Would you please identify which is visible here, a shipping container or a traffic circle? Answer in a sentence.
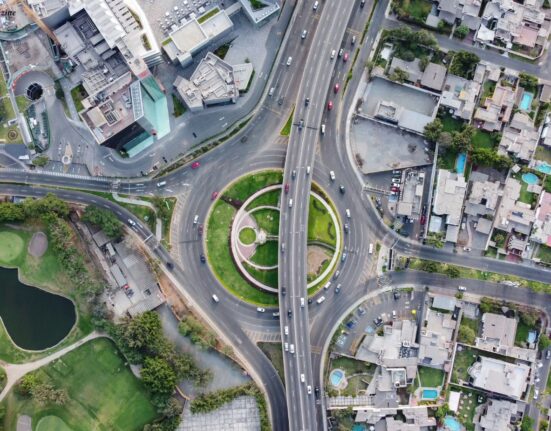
This aerial view contains a traffic circle.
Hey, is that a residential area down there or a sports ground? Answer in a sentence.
This looks like a residential area.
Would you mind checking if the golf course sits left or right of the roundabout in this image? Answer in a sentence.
The golf course can be seen on the left of the roundabout.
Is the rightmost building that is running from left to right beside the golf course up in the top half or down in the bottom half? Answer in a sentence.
Seen from above, the rightmost building that is running from left to right beside the golf course lies in the bottom half of the view.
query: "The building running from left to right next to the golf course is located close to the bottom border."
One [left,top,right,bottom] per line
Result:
[179,393,260,431]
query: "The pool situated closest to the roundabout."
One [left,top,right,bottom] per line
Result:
[328,369,345,388]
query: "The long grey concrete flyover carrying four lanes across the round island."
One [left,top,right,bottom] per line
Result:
[278,0,355,431]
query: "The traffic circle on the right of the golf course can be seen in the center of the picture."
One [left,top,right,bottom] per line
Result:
[204,168,343,307]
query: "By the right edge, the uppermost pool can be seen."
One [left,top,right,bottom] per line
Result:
[519,90,533,109]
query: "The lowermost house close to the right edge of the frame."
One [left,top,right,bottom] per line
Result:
[469,393,525,431]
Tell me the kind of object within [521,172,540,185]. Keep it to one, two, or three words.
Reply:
swimming pool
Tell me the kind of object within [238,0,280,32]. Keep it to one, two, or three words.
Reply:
building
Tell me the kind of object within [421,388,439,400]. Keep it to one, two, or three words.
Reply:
swimming pool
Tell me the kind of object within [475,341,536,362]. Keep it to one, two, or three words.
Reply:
house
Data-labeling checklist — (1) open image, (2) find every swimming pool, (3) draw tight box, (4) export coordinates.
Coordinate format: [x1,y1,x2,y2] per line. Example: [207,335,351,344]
[456,151,467,174]
[328,369,345,388]
[443,415,464,431]
[534,161,551,174]
[521,172,540,185]
[527,331,536,343]
[519,90,533,109]
[421,388,439,400]
[349,421,368,431]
